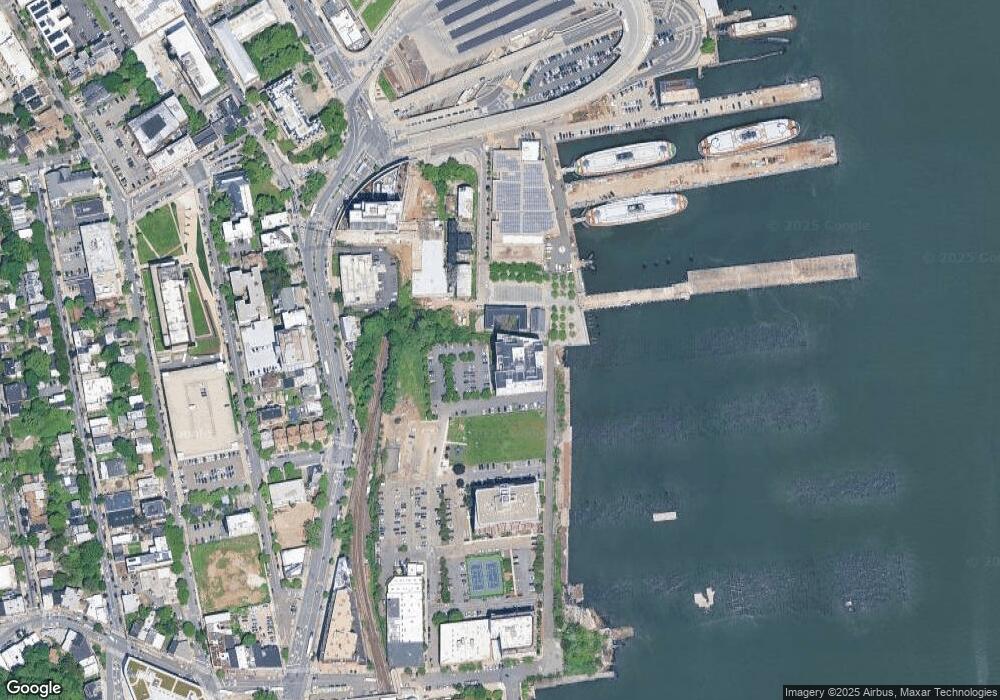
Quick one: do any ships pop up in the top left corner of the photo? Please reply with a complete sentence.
No, no ship can be made out in the top left corner of the photo.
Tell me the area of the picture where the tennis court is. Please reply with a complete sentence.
The tennis court is located in the bottom region of the scene.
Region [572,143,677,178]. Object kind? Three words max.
ship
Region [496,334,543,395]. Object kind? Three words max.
building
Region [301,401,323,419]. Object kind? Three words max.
house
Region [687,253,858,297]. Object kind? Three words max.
pier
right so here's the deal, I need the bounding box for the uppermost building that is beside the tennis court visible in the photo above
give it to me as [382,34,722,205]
[474,482,538,535]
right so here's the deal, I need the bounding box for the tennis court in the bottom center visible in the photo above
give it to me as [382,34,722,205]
[466,555,503,597]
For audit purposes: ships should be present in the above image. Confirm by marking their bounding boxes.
[697,124,801,160]
[729,15,798,40]
[653,513,677,522]
[572,143,677,178]
[583,195,689,232]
